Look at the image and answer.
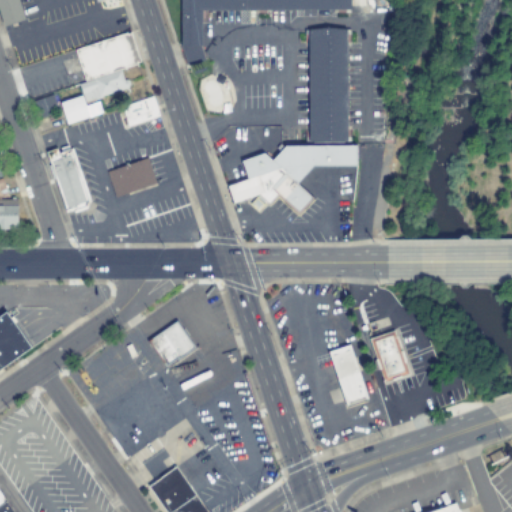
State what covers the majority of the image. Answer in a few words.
paved ground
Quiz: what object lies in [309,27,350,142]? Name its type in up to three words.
building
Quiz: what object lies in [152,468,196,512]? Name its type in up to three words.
building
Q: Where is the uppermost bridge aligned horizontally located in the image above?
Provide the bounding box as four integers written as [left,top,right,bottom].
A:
[389,234,512,289]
